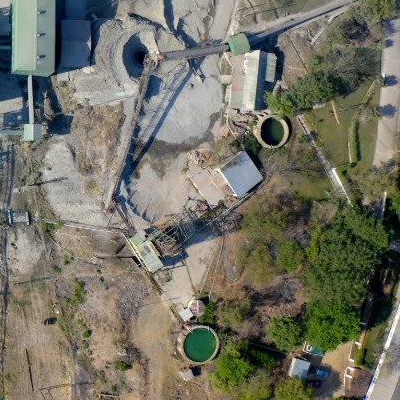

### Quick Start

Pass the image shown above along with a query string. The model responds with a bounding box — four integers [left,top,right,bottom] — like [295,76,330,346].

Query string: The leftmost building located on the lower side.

[124,226,164,274]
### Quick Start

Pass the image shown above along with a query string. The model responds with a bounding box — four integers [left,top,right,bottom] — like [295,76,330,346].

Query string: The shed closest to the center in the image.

[215,152,263,199]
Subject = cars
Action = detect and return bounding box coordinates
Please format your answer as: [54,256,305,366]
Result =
[315,369,331,378]
[309,379,324,388]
